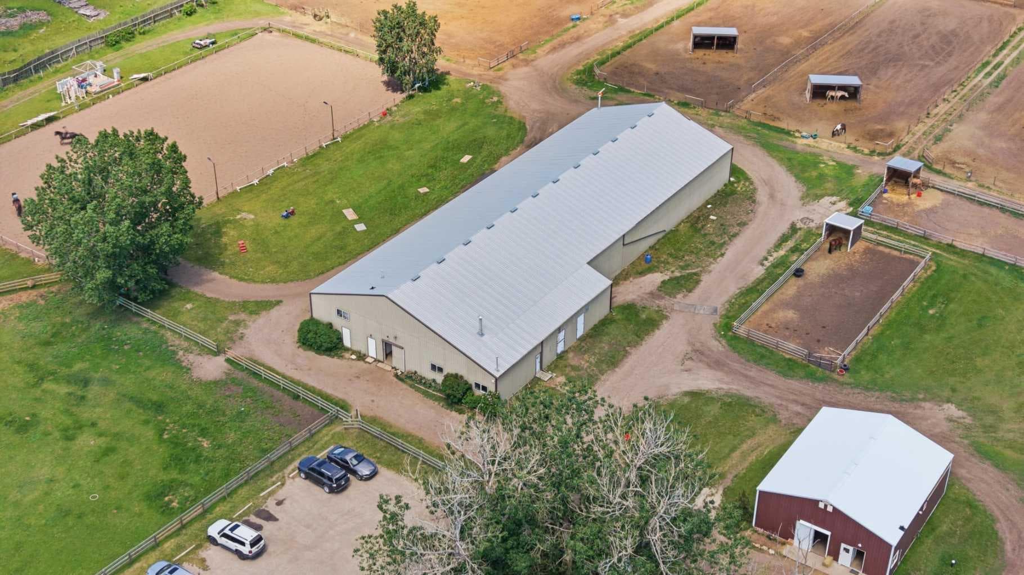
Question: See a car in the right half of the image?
No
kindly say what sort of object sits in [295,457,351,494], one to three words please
car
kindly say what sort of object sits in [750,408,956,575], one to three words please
barn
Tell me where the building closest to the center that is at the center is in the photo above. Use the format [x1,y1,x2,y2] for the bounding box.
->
[308,91,736,396]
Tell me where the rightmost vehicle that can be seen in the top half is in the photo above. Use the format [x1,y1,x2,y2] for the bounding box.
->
[188,35,219,50]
